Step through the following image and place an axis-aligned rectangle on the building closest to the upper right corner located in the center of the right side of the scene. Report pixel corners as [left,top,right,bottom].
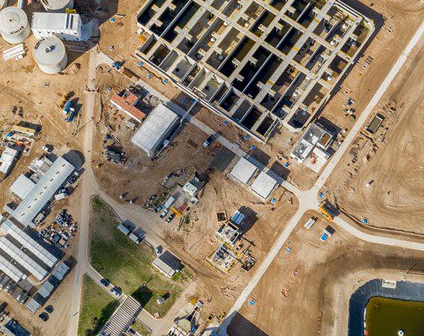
[292,123,334,166]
